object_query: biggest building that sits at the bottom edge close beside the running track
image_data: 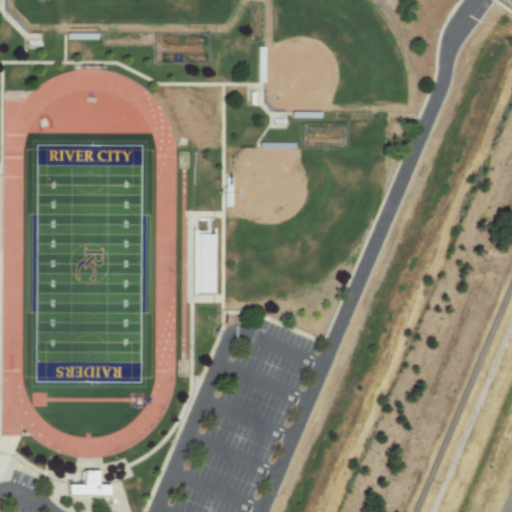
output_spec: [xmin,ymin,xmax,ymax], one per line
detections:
[70,470,113,496]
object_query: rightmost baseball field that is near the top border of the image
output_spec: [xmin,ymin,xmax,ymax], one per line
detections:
[266,0,407,111]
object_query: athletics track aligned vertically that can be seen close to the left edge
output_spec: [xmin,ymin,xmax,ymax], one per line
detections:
[4,70,176,458]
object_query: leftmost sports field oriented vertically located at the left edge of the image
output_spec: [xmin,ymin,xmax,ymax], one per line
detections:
[24,134,156,437]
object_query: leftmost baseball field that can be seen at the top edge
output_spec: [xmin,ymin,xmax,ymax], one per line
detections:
[16,0,241,25]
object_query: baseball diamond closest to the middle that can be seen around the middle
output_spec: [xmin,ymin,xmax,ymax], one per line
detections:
[228,148,384,292]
